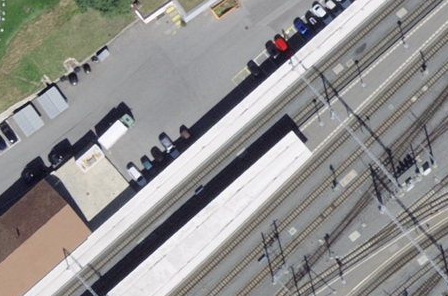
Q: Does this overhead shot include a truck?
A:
Yes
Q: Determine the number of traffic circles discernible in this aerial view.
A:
0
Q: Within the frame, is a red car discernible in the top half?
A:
Yes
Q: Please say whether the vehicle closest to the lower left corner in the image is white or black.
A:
black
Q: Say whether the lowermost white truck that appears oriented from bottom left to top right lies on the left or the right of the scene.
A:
left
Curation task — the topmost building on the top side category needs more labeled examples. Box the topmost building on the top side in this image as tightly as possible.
[38,86,68,118]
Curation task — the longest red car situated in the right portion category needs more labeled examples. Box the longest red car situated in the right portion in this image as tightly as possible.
[272,35,292,58]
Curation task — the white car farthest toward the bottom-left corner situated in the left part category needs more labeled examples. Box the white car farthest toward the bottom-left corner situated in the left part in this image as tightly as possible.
[126,163,146,186]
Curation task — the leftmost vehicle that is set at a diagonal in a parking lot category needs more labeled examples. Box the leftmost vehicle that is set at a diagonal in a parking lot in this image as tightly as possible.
[0,122,19,145]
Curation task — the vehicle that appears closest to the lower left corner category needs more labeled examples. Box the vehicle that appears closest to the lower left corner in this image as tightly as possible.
[20,158,44,180]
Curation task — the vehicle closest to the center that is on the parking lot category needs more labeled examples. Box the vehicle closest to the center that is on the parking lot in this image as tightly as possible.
[178,126,194,144]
